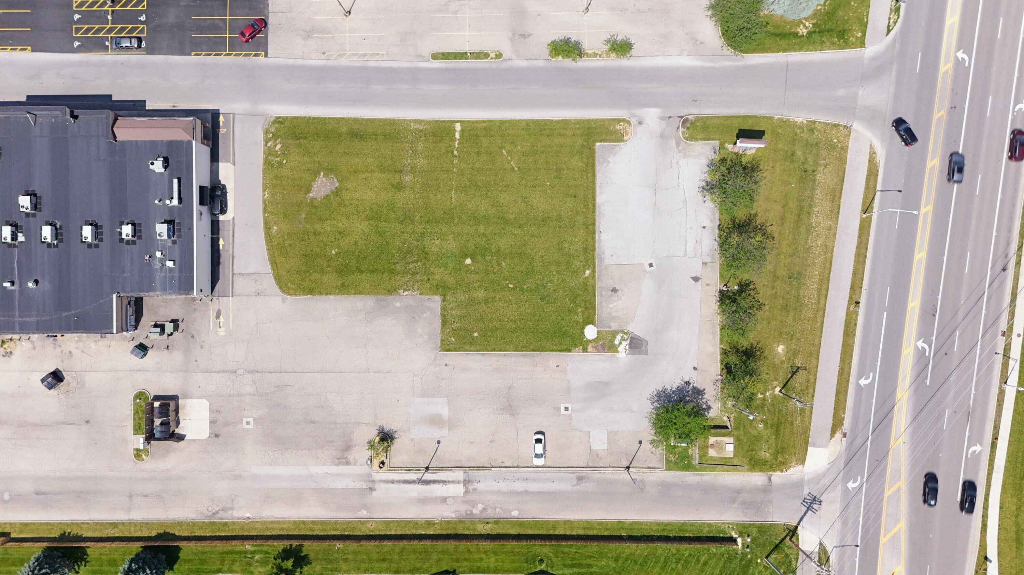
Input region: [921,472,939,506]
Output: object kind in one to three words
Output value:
car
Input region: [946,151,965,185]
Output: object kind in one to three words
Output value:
car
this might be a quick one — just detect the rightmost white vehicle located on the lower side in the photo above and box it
[532,433,546,466]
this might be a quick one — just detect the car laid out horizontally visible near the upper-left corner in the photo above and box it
[110,35,143,51]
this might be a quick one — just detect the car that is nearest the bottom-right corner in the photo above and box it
[958,480,977,513]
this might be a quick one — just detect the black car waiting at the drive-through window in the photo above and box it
[212,184,228,217]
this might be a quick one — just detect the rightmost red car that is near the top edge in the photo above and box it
[236,17,268,45]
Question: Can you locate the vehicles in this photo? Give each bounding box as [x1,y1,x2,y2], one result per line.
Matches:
[1007,128,1024,162]
[891,117,917,148]
[946,151,965,185]
[958,480,977,513]
[236,17,268,45]
[921,472,939,506]
[212,184,228,217]
[110,35,143,51]
[532,433,546,466]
